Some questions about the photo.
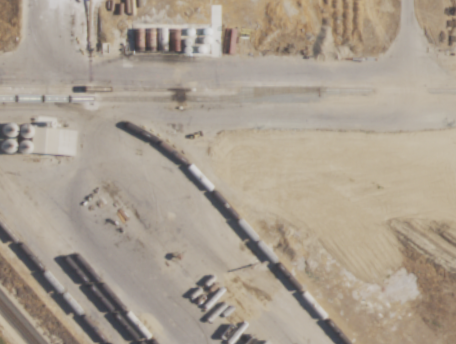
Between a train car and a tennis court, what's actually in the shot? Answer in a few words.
train car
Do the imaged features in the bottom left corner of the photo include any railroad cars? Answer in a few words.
Yes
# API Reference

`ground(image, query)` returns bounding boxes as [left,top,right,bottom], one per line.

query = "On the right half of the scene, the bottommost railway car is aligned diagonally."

[328,318,355,344]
